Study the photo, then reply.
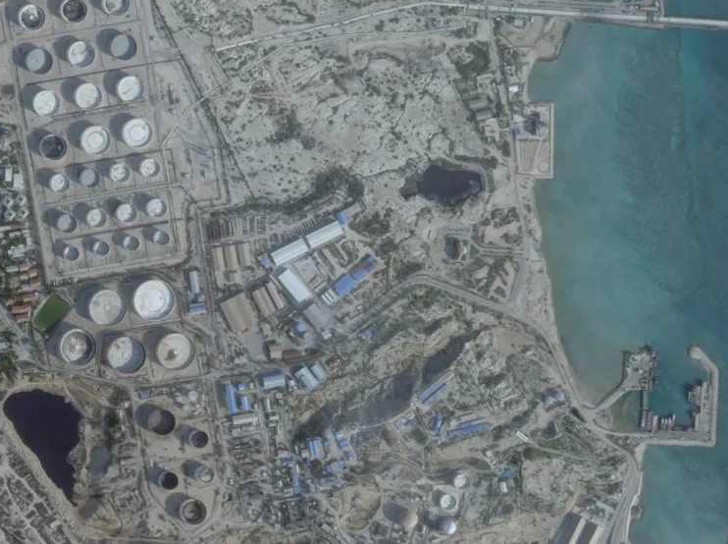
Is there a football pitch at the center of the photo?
No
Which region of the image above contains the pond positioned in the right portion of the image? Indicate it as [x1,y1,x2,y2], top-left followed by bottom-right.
[401,164,483,206]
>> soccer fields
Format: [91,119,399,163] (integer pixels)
[31,291,72,333]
